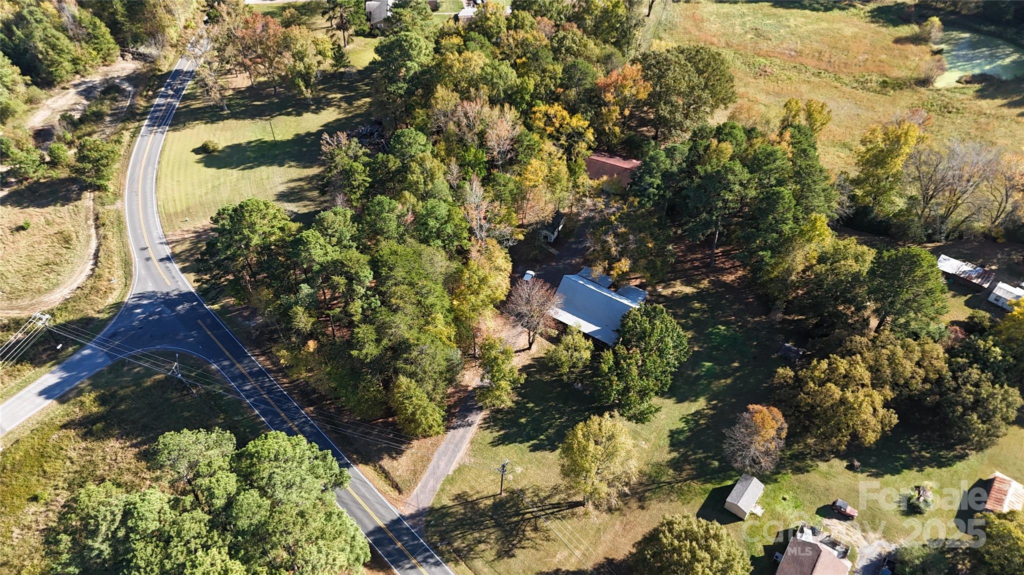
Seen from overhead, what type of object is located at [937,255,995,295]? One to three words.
shed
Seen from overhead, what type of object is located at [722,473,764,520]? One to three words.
shed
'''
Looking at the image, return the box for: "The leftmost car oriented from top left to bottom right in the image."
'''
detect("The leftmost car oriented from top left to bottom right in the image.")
[833,500,860,522]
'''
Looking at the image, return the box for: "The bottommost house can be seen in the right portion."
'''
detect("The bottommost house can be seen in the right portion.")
[766,534,843,575]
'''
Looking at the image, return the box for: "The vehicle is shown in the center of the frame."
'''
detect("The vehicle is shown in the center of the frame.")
[522,272,534,290]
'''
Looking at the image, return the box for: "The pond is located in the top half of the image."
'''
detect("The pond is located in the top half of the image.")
[932,28,1024,94]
